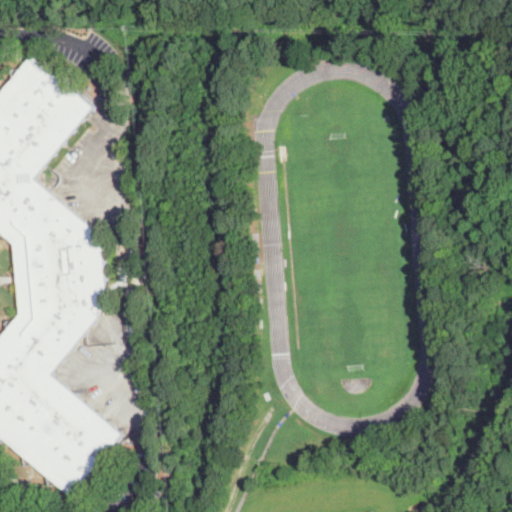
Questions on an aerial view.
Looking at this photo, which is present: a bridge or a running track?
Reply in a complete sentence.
This aerial view contains a running track.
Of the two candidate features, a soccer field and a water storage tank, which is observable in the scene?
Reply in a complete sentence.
The one in the frame is a soccer field.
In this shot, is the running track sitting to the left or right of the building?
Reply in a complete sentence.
The running track is to the right of the building.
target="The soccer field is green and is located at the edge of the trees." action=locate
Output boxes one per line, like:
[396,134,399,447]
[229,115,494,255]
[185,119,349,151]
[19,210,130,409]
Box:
[275,80,420,418]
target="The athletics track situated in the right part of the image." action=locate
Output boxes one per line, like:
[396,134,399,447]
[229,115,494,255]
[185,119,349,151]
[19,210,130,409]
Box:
[251,58,438,436]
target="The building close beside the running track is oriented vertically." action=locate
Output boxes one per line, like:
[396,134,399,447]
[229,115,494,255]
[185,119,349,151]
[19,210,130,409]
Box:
[0,58,122,490]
